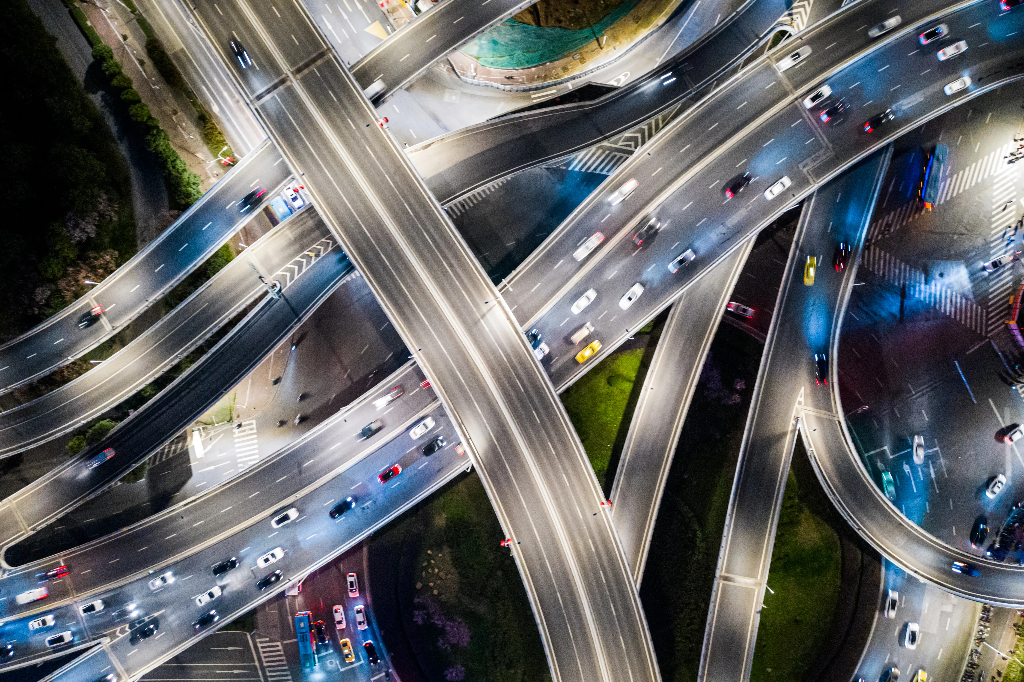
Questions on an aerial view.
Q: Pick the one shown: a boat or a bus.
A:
bus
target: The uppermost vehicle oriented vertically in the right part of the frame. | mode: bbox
[916,142,949,214]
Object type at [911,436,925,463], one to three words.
car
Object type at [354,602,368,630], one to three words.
car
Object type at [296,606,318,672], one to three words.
bus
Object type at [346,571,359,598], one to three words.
vehicle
